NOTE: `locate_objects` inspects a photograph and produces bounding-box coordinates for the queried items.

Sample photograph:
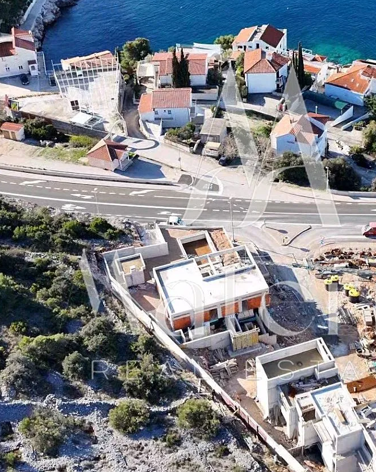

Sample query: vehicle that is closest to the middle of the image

[156,213,184,226]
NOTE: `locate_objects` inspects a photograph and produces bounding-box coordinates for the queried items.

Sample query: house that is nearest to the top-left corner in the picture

[0,25,44,77]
